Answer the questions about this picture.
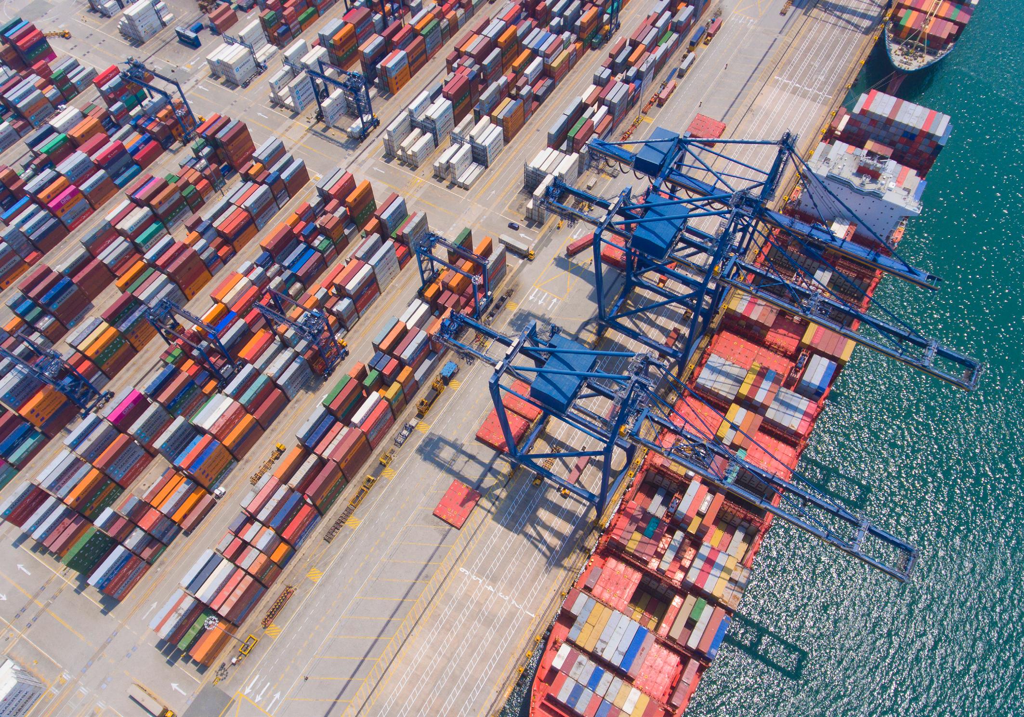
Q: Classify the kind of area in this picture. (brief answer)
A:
port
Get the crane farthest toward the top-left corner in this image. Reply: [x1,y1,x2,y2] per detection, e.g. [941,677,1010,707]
[121,61,205,141]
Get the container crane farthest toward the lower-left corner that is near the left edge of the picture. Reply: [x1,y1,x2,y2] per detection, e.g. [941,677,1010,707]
[0,326,111,420]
